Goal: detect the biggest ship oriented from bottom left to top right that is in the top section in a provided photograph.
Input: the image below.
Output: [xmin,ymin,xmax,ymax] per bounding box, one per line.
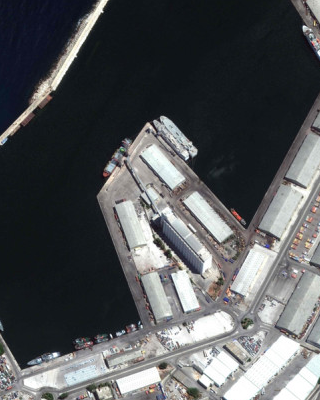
[104,137,133,177]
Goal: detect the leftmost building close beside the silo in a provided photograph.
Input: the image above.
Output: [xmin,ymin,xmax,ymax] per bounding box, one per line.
[116,200,146,252]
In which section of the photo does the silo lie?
center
